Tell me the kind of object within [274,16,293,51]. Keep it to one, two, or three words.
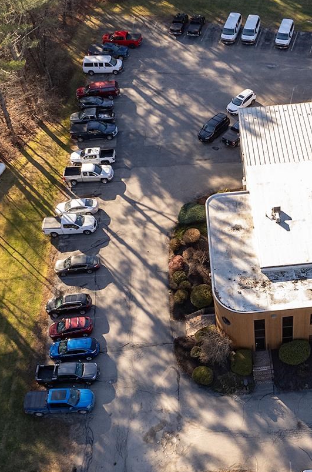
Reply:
vehicle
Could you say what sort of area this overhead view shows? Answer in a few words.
parking lot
